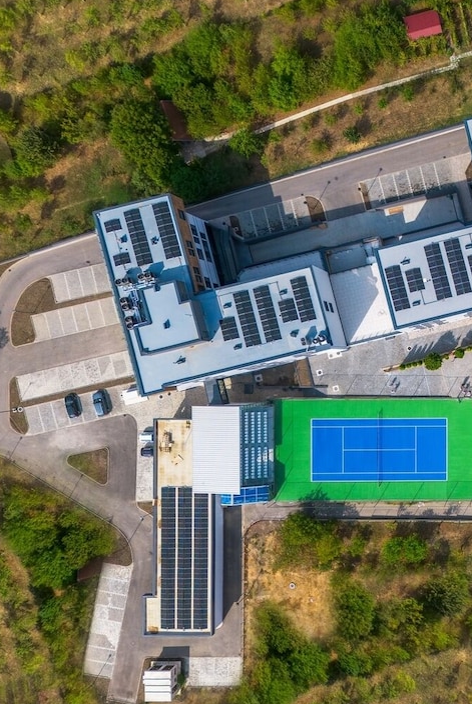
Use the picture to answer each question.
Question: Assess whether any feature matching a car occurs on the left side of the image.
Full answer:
Yes, a car can be seen on the left side of the image.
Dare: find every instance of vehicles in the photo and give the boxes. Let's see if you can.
[62,393,80,418]
[138,446,153,459]
[90,390,108,415]
[138,432,153,444]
